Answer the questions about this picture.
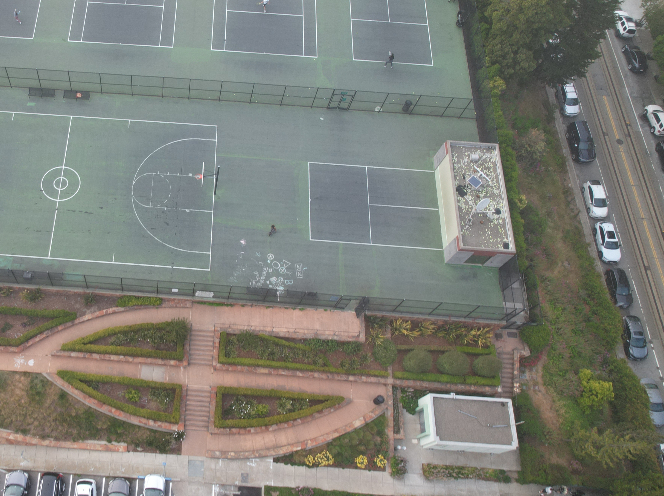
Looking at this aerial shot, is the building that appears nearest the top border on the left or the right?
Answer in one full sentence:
The building that appears nearest the top border appears in the right half of the scene.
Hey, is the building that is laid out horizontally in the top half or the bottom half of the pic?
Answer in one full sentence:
The building that is laid out horizontally is in the bottom half of the image.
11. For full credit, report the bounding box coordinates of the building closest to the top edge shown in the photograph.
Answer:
[436,141,515,266]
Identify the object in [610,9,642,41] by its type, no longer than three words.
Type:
car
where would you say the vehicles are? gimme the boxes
[582,179,611,220]
[557,80,584,117]
[567,119,599,164]
[1,470,29,496]
[592,221,624,266]
[617,315,652,362]
[74,478,98,496]
[107,478,130,496]
[610,9,642,41]
[37,472,64,496]
[654,138,664,174]
[643,103,664,138]
[619,43,647,76]
[641,379,664,427]
[602,268,636,309]
[140,473,168,496]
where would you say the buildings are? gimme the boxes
[410,394,523,453]
[436,141,515,266]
